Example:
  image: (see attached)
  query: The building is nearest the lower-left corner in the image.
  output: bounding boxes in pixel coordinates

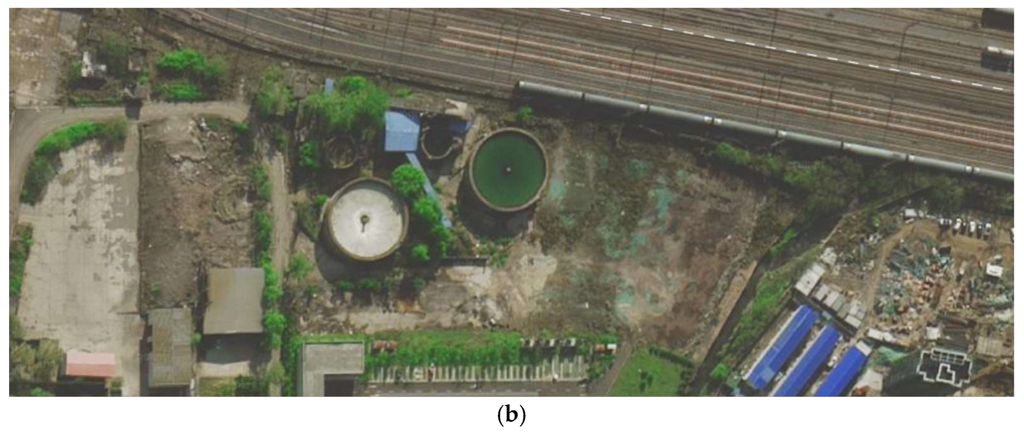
[65,350,116,375]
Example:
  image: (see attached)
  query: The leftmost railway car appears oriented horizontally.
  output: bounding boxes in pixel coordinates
[517,82,584,102]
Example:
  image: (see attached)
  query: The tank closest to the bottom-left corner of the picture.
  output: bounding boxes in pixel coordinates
[321,179,408,261]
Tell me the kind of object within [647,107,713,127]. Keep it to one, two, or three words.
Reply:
rail car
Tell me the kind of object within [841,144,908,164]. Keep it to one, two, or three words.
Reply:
rail car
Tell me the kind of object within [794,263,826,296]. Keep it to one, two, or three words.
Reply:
shed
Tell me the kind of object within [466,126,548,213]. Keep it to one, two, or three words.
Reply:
storage tank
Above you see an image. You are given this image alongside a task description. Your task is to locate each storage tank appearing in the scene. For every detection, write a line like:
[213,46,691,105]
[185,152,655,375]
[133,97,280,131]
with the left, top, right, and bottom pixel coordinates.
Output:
[321,179,408,261]
[466,126,548,213]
